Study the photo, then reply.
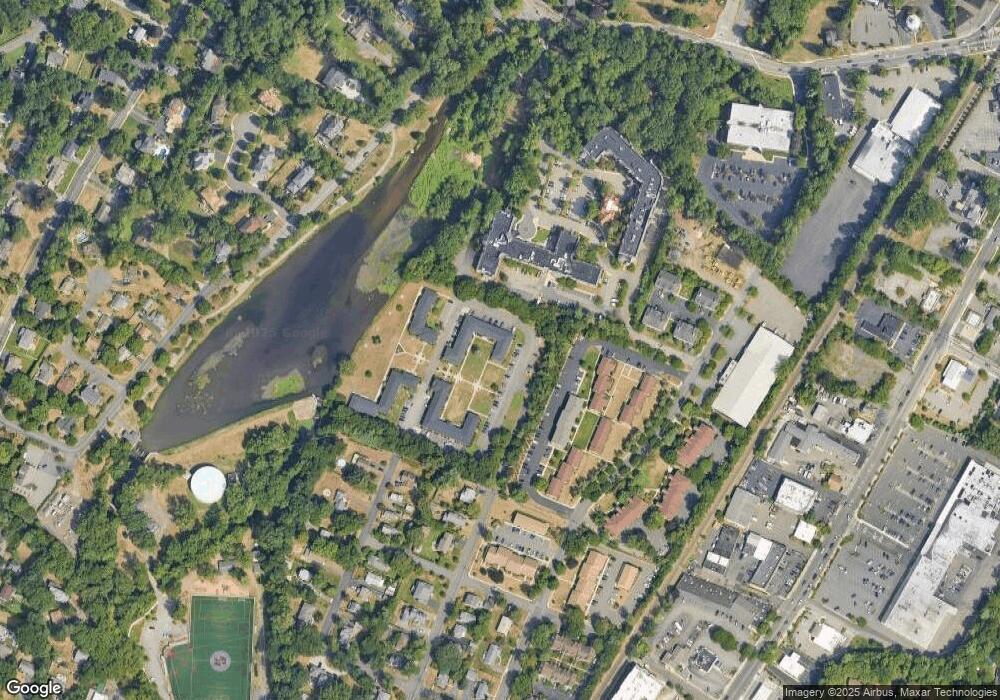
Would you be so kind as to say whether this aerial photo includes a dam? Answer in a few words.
Yes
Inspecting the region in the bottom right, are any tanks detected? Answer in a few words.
No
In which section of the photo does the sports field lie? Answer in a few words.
bottom left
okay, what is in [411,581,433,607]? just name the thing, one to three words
house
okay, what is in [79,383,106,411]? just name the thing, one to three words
house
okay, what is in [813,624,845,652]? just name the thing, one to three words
building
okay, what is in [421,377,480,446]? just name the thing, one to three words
building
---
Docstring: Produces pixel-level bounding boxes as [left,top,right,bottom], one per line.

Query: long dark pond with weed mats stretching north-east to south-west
[143,98,457,455]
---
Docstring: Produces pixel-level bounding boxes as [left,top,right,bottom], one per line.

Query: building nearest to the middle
[443,314,513,365]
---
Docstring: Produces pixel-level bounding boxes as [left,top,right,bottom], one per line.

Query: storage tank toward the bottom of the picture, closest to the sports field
[187,463,229,506]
